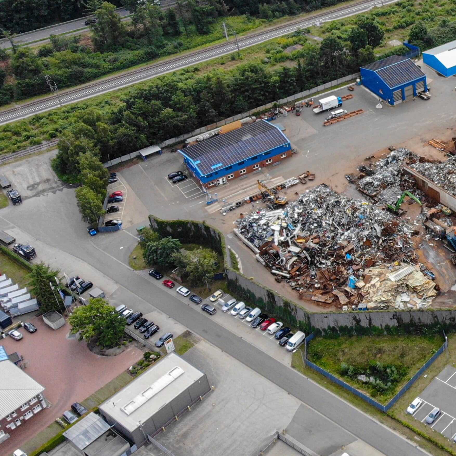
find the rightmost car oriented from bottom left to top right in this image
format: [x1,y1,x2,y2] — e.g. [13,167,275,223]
[425,406,443,426]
